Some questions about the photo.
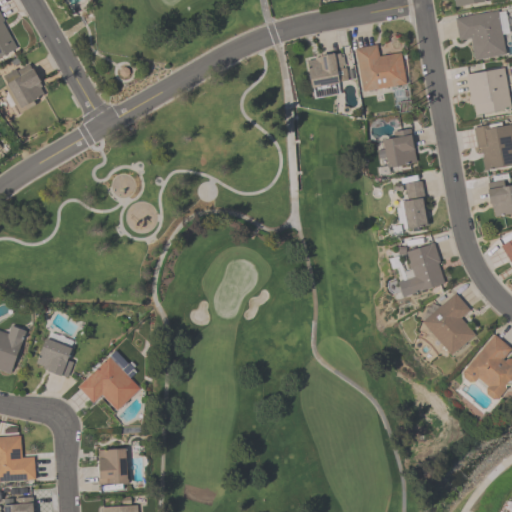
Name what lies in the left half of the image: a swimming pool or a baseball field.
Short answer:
swimming pool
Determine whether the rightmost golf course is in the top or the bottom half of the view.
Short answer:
bottom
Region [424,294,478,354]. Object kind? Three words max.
house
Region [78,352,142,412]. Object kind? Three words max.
house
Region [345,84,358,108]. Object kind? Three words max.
swimming pool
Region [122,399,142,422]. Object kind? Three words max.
swimming pool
